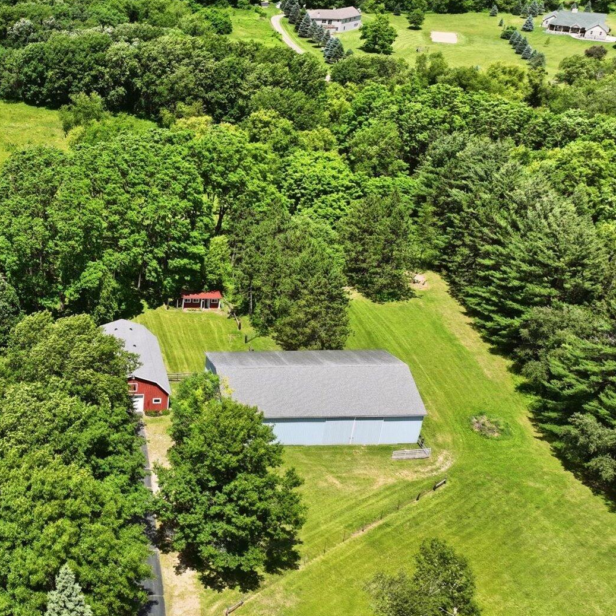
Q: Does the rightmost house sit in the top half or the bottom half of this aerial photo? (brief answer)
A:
top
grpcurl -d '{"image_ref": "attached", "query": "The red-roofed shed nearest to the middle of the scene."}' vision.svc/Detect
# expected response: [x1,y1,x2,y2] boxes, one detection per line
[182,287,224,309]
